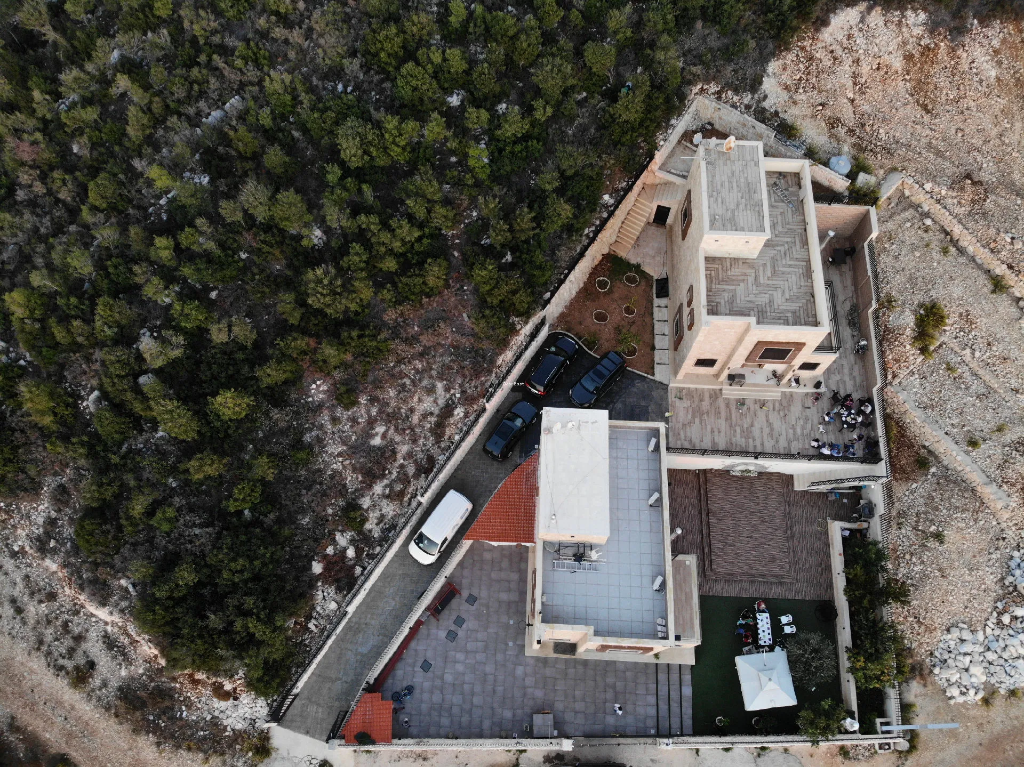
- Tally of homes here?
2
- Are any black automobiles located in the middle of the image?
Yes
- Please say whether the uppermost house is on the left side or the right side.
right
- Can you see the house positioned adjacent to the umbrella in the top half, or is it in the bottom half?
bottom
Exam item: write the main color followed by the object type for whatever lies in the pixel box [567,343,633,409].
black car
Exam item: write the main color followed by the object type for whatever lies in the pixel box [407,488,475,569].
white van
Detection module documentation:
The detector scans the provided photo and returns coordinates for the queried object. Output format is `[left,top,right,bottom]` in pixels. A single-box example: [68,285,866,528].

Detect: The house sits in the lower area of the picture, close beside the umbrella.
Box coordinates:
[463,407,703,665]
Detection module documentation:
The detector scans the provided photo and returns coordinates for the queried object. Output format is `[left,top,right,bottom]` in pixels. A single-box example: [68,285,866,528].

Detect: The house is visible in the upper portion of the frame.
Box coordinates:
[667,139,849,400]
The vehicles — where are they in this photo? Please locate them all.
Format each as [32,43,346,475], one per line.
[480,399,538,464]
[545,754,628,767]
[524,332,579,399]
[567,343,633,409]
[407,488,475,569]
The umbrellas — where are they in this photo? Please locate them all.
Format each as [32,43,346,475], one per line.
[735,637,797,711]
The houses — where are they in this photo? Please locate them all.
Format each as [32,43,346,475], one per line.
[667,139,849,400]
[463,407,703,665]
